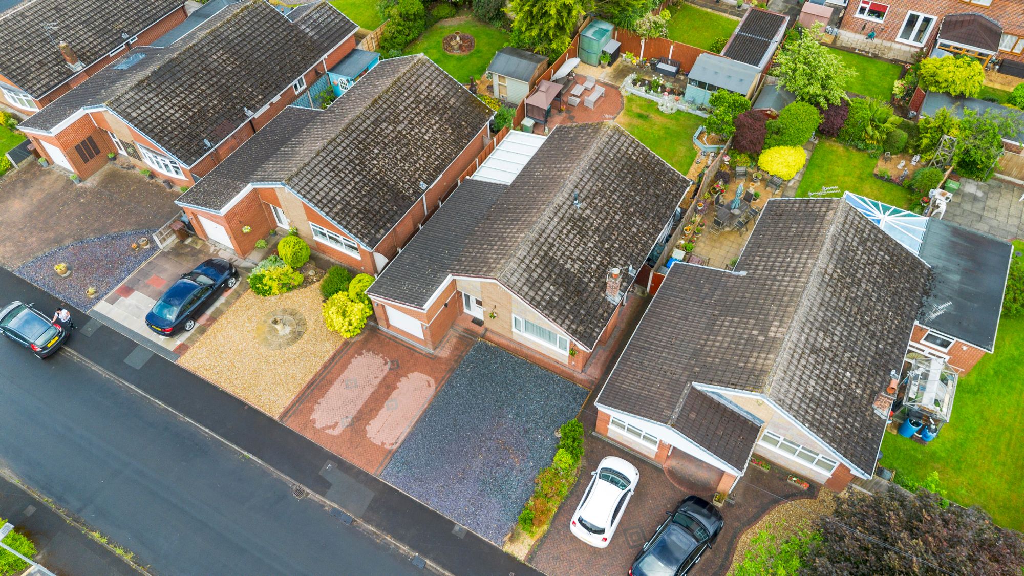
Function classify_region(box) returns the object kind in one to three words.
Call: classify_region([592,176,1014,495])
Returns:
house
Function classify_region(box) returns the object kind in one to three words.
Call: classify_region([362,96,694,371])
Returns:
house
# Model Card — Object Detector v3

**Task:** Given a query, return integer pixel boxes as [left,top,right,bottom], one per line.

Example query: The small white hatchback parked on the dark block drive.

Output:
[569,453,640,554]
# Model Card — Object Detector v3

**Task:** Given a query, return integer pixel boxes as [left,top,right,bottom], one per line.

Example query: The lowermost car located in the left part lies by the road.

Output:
[0,298,68,360]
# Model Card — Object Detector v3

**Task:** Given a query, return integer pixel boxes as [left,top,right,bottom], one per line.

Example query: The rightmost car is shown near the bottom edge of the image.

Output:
[622,491,721,576]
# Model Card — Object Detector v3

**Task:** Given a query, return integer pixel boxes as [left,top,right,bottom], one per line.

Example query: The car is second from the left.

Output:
[144,255,240,338]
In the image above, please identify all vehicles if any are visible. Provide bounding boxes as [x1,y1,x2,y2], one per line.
[0,298,68,360]
[144,255,240,338]
[569,453,640,554]
[622,491,721,576]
